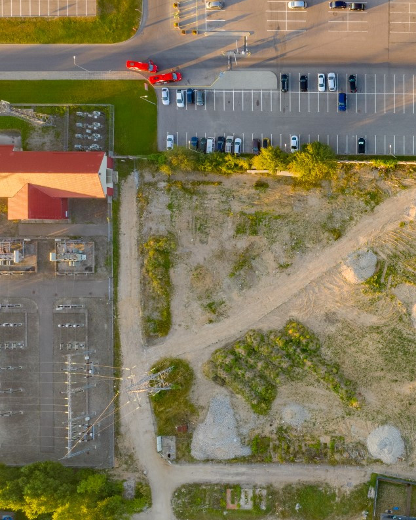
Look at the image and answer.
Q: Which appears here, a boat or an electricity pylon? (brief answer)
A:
electricity pylon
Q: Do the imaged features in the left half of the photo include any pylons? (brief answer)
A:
Yes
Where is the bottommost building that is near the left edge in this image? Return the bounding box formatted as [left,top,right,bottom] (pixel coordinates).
[0,143,119,226]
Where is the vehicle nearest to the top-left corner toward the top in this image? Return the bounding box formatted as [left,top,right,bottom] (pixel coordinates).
[126,59,155,73]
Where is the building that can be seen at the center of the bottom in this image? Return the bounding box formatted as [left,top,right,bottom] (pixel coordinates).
[158,435,179,460]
